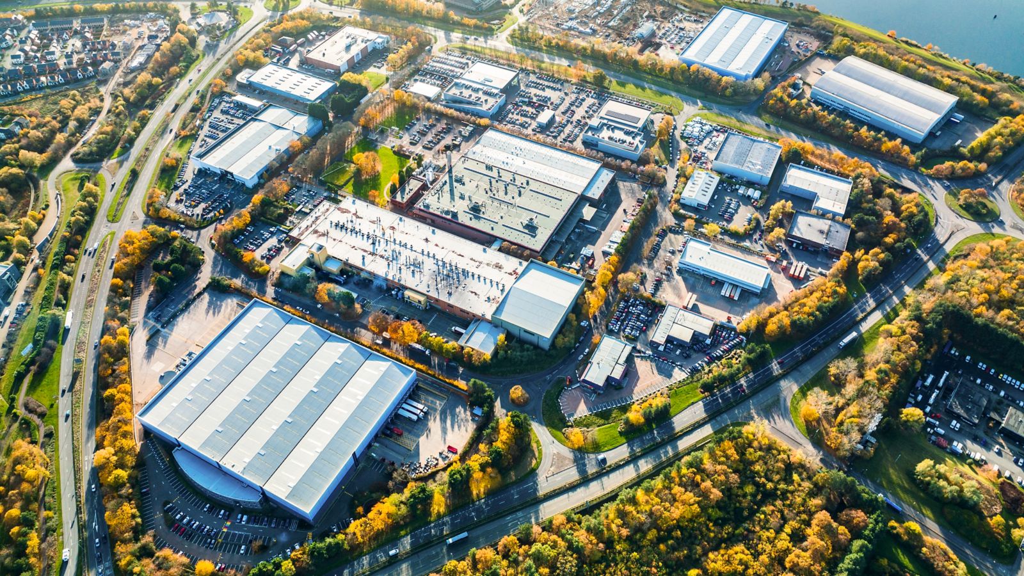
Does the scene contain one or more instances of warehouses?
Yes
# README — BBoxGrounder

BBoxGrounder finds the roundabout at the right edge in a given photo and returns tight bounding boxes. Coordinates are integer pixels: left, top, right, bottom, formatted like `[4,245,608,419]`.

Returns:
[924,178,1024,236]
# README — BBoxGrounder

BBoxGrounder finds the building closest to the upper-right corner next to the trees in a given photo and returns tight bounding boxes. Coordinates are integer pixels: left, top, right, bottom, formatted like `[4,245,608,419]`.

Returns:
[809,57,960,140]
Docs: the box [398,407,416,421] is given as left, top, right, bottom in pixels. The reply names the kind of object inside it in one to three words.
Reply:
vehicle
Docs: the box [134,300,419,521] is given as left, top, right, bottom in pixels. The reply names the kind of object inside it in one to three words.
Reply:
warehouse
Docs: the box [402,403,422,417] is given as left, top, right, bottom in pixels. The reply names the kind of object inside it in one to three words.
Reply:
vehicle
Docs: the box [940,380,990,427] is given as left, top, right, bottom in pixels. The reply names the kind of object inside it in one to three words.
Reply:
building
